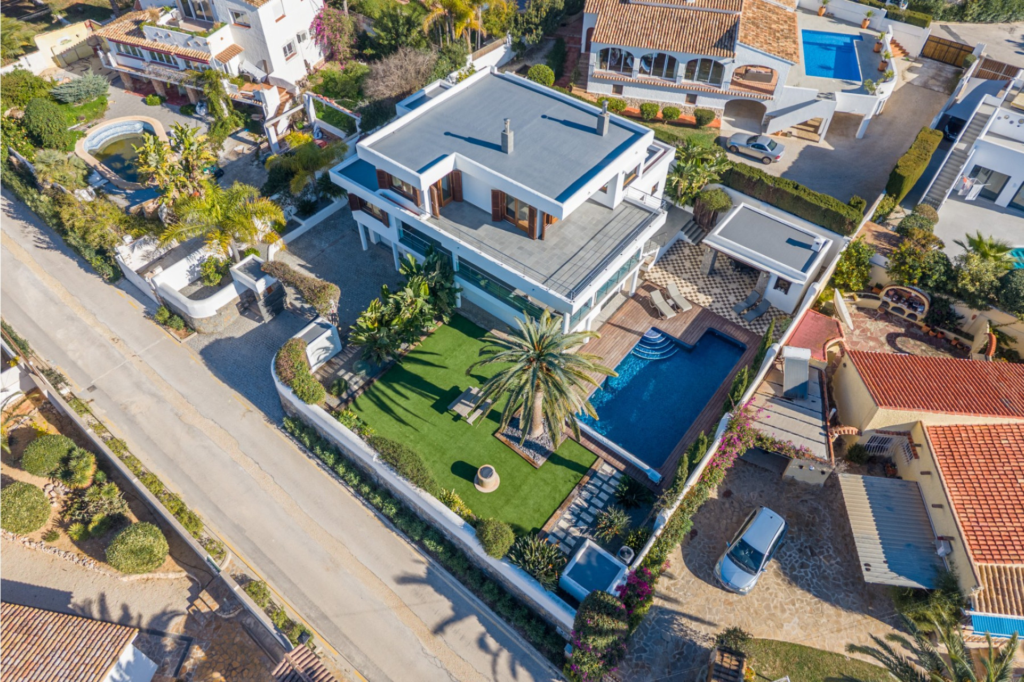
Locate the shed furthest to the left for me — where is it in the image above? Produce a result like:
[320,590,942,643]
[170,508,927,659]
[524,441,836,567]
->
[0,328,46,416]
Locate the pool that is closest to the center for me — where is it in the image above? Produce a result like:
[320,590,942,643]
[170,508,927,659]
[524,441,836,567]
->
[573,306,749,467]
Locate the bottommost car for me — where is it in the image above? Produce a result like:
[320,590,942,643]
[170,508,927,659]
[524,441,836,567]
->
[716,498,793,594]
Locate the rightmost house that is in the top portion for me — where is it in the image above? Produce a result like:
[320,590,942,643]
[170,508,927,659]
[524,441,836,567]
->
[922,86,1024,217]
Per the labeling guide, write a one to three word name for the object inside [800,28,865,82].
swimming pool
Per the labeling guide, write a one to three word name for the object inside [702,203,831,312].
building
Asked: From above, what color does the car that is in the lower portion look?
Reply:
blue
